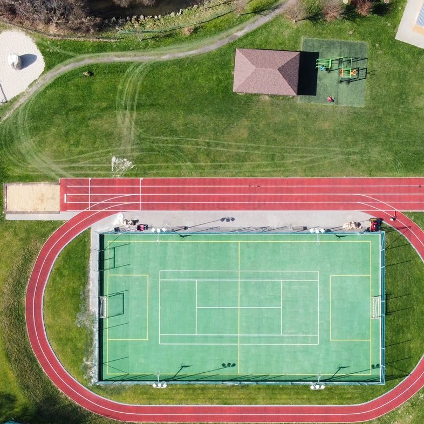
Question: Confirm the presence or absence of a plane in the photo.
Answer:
No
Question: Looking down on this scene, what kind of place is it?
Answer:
sports ground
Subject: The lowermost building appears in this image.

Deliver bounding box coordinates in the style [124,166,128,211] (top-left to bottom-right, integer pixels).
[233,49,300,97]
